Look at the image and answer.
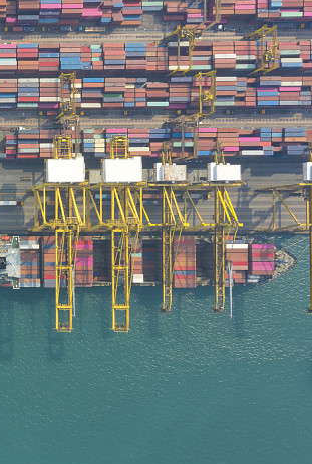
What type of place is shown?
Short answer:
port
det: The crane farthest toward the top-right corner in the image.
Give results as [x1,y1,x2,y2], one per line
[239,25,278,80]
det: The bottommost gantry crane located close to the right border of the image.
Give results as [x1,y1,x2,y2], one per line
[241,137,312,314]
